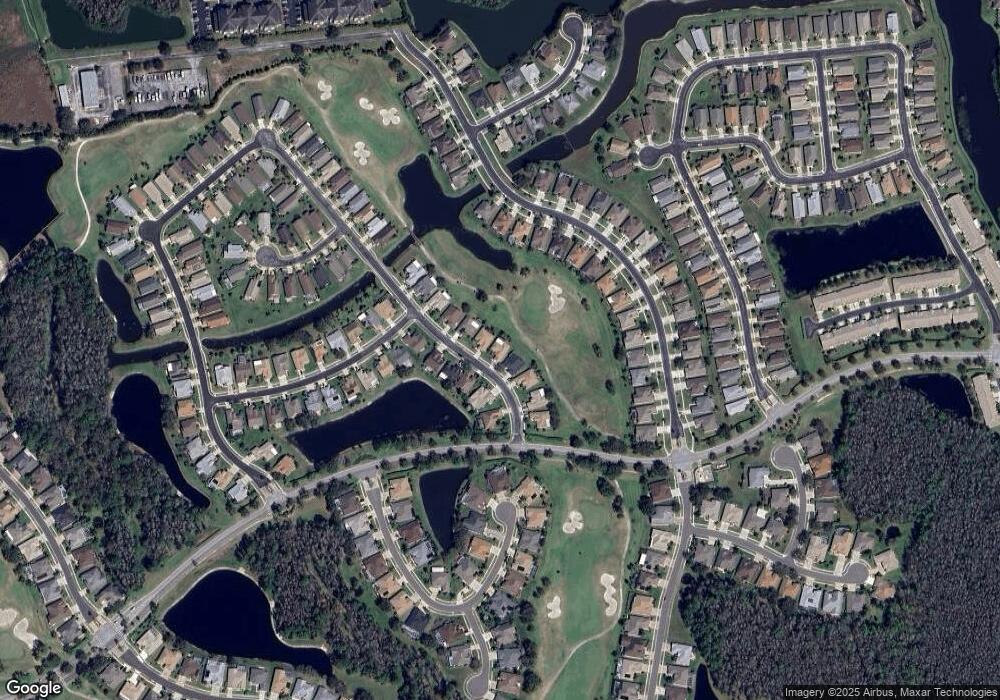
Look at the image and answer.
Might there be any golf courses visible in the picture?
Yes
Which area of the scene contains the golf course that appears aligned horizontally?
top left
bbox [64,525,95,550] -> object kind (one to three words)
house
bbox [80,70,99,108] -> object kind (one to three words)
building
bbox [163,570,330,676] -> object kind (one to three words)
pond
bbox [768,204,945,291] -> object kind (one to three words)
pond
